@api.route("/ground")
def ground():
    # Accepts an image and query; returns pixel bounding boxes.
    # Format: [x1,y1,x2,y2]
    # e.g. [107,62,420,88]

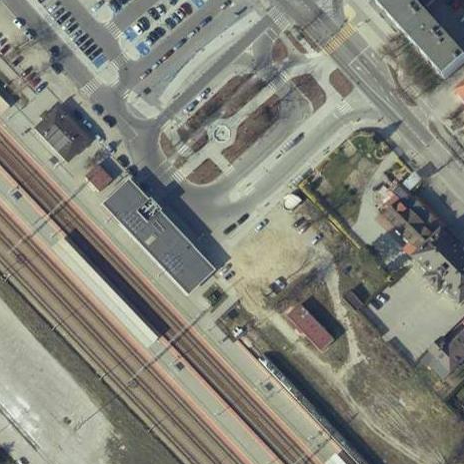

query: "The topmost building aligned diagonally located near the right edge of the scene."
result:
[374,0,463,76]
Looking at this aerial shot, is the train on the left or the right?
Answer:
right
